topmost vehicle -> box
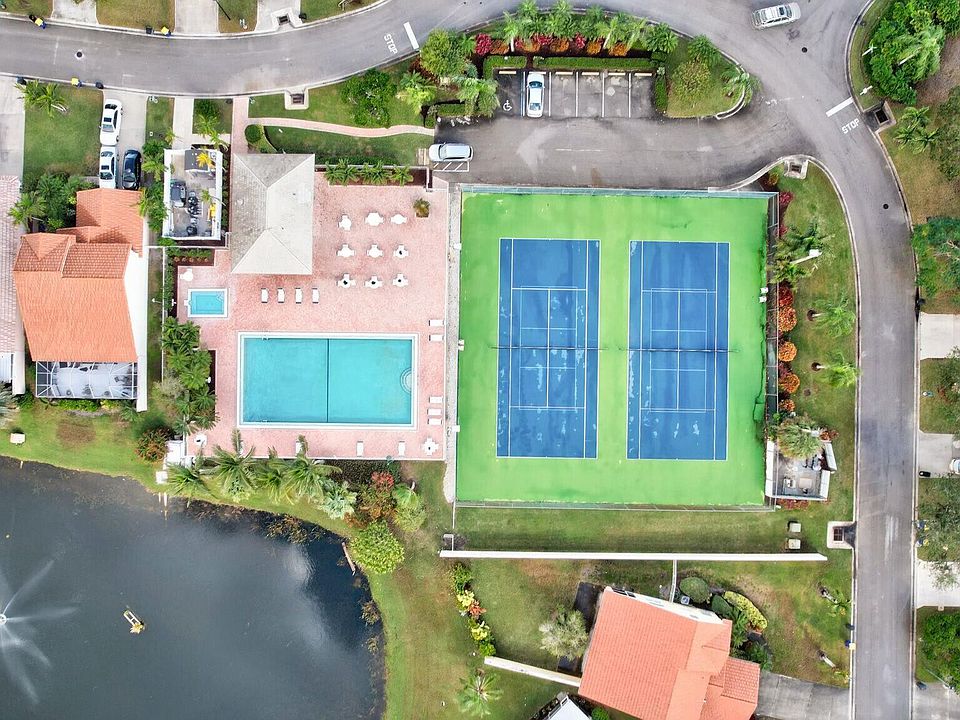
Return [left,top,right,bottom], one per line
[751,1,801,31]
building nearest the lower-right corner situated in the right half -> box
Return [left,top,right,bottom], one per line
[578,581,761,720]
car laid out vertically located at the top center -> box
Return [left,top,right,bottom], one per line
[525,73,546,118]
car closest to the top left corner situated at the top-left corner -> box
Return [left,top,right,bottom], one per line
[98,98,125,146]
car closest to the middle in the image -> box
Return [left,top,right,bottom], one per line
[429,141,473,163]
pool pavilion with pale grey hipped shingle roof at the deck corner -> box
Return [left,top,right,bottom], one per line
[231,153,317,275]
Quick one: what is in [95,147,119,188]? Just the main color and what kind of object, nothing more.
white car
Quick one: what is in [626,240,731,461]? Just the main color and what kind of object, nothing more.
blue tennis court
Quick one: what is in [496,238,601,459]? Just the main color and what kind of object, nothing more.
blue tennis court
